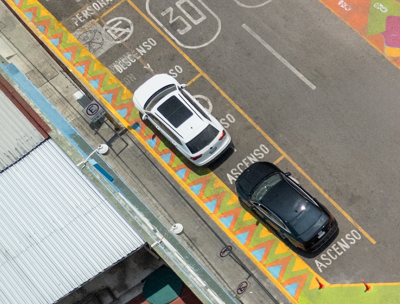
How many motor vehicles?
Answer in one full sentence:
Altogether the scene contains 2 motor vehicles.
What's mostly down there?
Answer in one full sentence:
The scene is dominated by paved ground.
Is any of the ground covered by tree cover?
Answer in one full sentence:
No, tree cover can't be seen anywhere here.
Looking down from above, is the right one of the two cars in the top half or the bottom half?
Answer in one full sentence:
You can find the right one of the two cars in the bottom half.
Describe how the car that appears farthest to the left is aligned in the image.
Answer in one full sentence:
I'd say the car that appears farthest to the left is aligned at an angle in the picture.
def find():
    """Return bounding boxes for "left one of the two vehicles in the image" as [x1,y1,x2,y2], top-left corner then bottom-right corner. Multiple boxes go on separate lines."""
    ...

[136,75,239,177]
